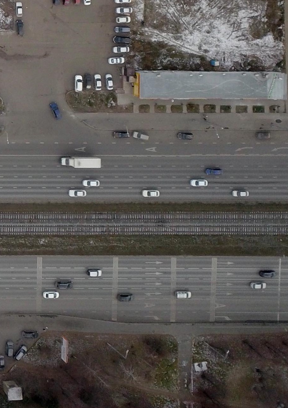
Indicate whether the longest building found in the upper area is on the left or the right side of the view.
right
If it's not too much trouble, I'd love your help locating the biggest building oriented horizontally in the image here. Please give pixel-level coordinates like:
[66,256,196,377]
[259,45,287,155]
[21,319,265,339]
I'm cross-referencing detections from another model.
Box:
[130,70,287,98]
